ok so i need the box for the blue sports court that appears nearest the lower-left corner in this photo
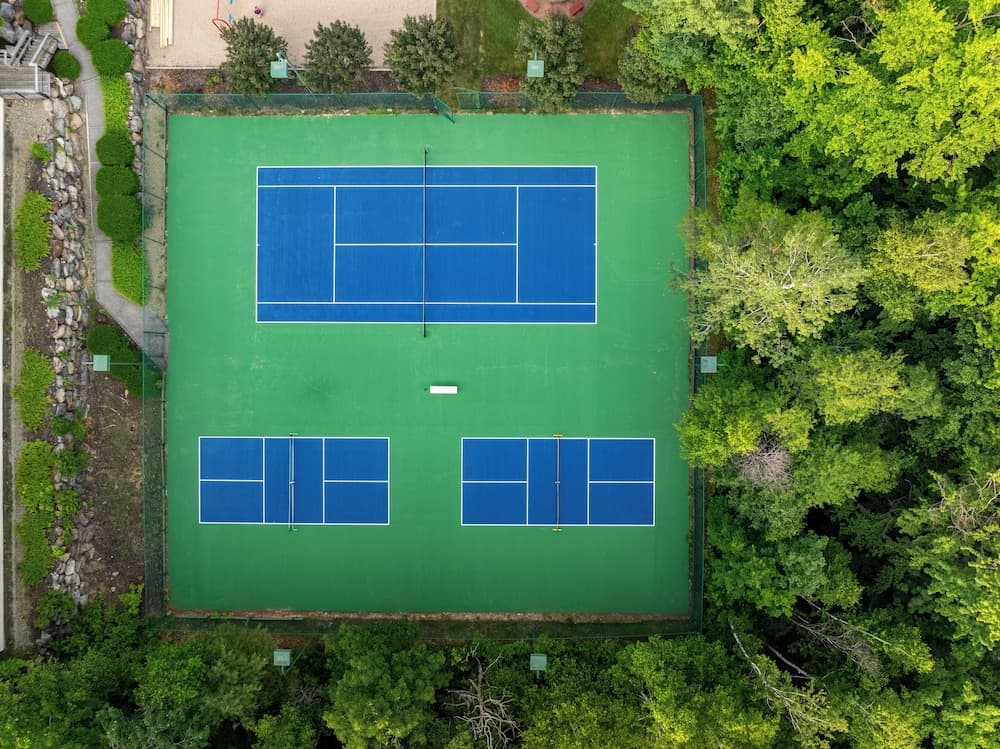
[198,437,390,525]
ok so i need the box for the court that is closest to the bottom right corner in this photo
[461,437,655,526]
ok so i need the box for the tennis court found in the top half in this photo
[256,165,598,324]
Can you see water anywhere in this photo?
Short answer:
No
